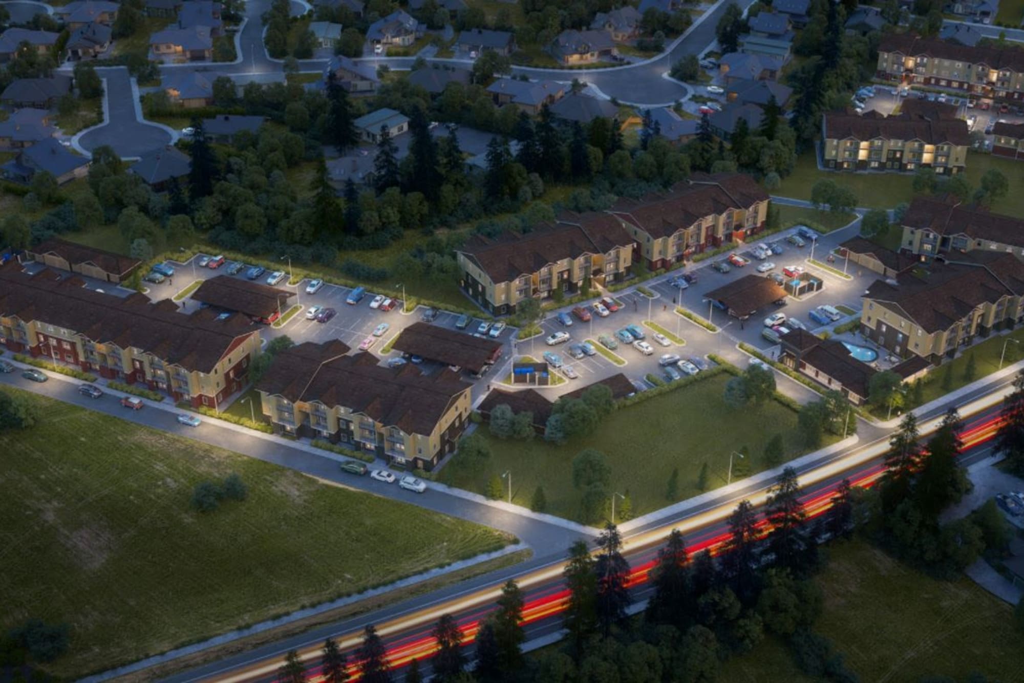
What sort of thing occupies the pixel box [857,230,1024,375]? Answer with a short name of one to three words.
building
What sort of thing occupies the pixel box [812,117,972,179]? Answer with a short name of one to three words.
building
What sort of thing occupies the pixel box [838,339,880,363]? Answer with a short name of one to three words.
swimming pool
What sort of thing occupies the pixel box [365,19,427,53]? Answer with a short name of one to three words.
house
